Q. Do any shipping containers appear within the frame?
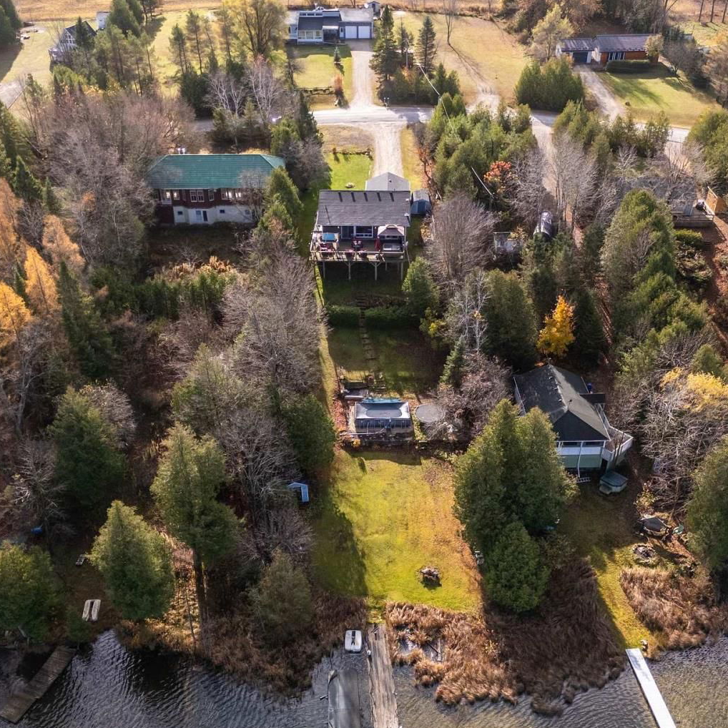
No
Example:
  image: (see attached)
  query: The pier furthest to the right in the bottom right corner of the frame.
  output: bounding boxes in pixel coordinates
[627,649,674,728]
